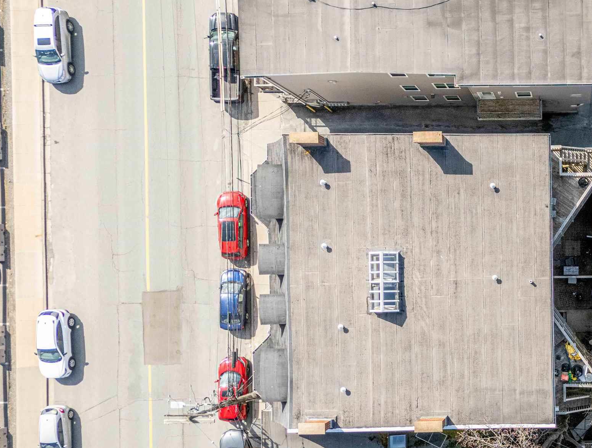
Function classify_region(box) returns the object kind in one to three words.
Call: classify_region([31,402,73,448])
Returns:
car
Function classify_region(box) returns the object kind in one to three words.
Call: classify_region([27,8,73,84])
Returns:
car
